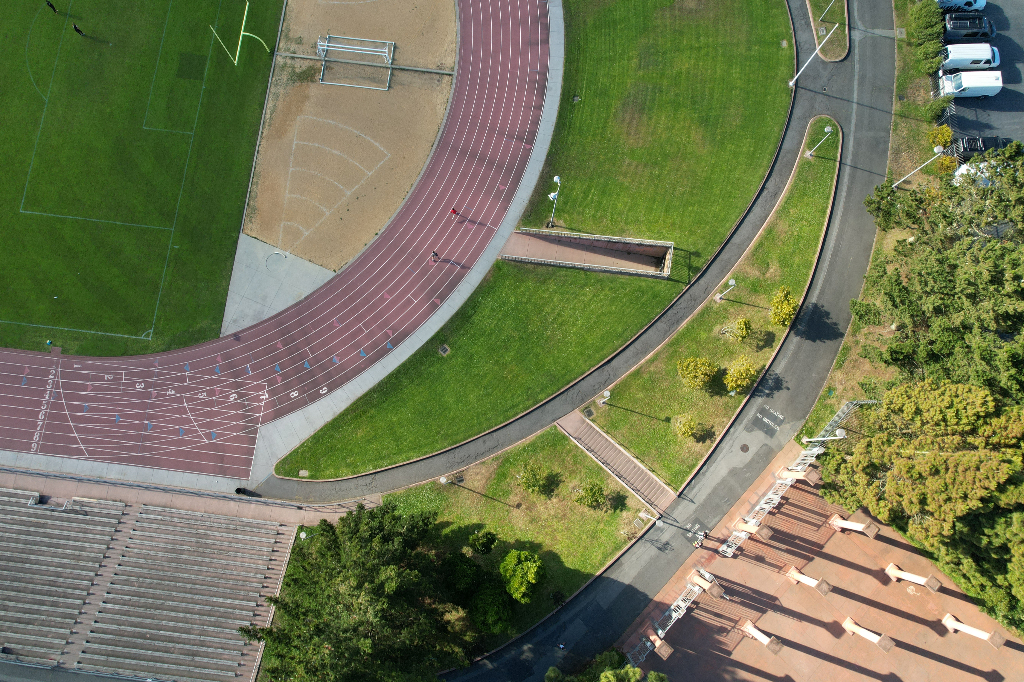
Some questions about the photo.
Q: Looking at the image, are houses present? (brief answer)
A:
No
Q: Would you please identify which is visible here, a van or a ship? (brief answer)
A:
van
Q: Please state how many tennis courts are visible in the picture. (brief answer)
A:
0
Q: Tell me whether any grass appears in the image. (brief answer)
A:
Yes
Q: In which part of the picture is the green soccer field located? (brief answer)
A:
top left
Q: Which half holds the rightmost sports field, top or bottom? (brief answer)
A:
top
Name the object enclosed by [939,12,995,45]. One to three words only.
van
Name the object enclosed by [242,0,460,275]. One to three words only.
sports field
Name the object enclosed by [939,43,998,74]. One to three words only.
van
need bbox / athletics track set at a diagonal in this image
[0,0,549,480]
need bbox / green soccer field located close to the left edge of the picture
[0,0,286,357]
